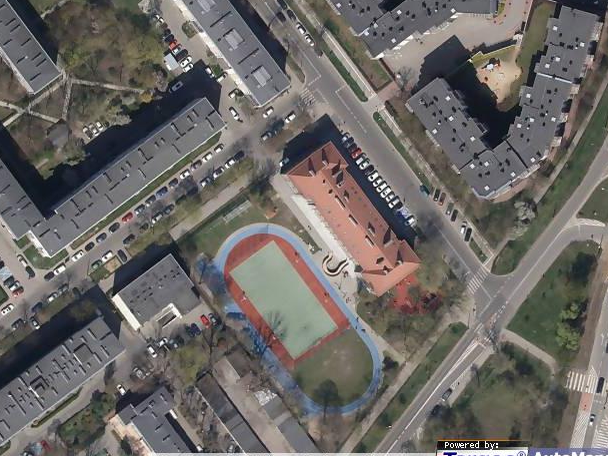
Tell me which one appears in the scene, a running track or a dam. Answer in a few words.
running track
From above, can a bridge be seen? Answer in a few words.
No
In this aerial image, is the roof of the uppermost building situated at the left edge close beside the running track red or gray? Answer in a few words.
gray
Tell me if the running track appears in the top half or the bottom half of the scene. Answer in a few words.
bottom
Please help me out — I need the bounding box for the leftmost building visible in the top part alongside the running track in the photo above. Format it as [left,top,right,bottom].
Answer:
[0,97,225,257]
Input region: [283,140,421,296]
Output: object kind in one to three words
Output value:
building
